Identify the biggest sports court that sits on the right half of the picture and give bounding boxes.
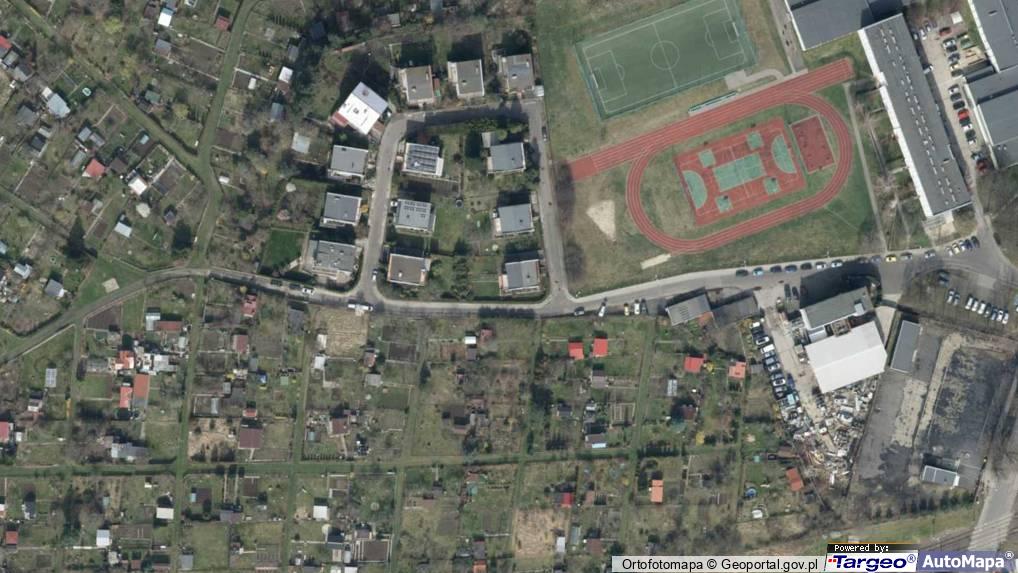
[675,116,806,225]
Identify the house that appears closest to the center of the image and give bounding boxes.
[500,260,540,294]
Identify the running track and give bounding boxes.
[568,58,855,253]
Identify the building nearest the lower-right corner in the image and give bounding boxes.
[919,466,958,486]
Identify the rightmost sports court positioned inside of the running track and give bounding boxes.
[790,114,835,173]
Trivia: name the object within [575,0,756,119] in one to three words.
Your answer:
soccer field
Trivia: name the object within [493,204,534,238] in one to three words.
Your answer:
house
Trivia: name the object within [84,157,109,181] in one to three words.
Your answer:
shed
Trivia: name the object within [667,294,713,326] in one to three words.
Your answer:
building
